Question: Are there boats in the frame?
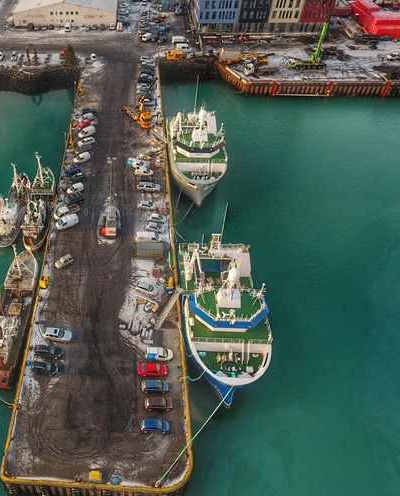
Yes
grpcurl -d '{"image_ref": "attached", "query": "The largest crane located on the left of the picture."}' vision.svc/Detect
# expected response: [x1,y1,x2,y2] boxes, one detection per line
[119,85,167,133]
